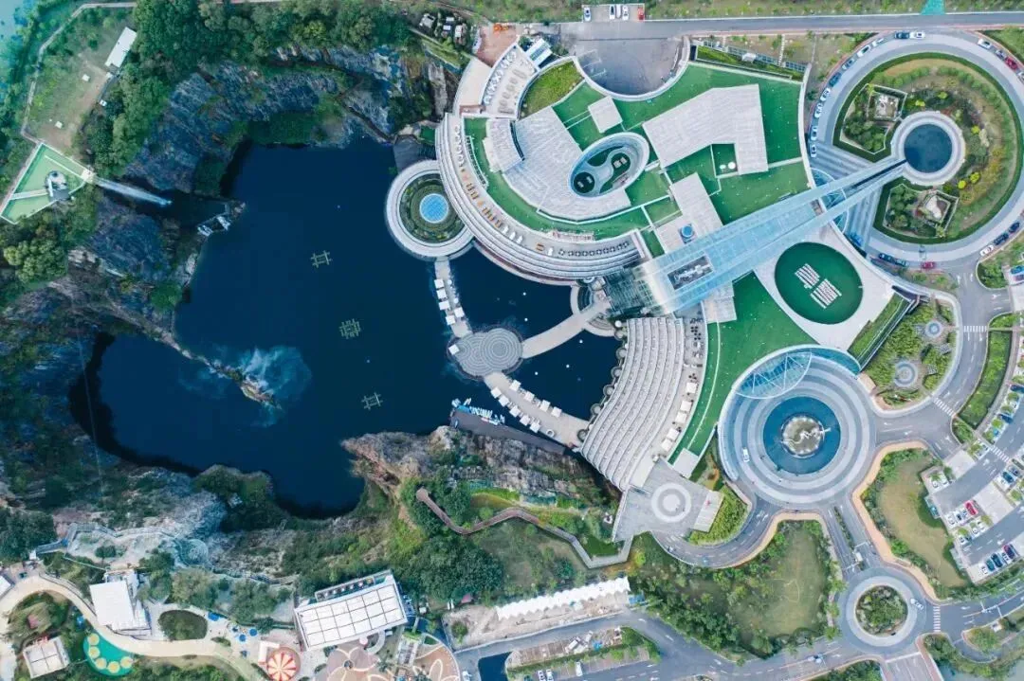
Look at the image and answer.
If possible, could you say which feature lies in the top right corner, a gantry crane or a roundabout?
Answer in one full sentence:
Visible in the top right corner is a roundabout.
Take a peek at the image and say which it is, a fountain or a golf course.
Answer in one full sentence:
The one in the frame is a fountain.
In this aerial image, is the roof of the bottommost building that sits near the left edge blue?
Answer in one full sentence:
No, from above the roof of the bottommost building that sits near the left edge looks white.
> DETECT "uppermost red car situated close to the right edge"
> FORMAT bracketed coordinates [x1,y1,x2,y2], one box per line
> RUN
[1006,56,1021,69]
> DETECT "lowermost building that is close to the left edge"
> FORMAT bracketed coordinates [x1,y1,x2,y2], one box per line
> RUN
[24,635,75,679]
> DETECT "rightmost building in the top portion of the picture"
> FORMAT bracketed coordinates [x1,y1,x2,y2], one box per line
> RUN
[920,192,955,221]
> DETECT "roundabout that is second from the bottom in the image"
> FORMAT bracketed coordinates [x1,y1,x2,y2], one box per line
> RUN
[722,361,877,508]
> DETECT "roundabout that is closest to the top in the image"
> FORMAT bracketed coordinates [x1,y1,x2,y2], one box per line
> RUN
[807,30,1024,267]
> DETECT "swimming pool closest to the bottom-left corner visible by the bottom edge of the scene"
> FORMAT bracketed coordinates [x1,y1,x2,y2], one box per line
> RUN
[83,629,135,678]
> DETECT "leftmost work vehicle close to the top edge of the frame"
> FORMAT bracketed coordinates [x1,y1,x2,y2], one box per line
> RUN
[493,20,515,32]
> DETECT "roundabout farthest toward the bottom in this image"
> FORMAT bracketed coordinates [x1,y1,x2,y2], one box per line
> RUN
[836,564,928,656]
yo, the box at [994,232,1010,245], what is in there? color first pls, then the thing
blue vehicle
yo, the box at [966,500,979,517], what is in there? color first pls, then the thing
red vehicle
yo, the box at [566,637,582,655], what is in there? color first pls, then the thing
white vehicle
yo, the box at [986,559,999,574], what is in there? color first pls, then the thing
blue vehicle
